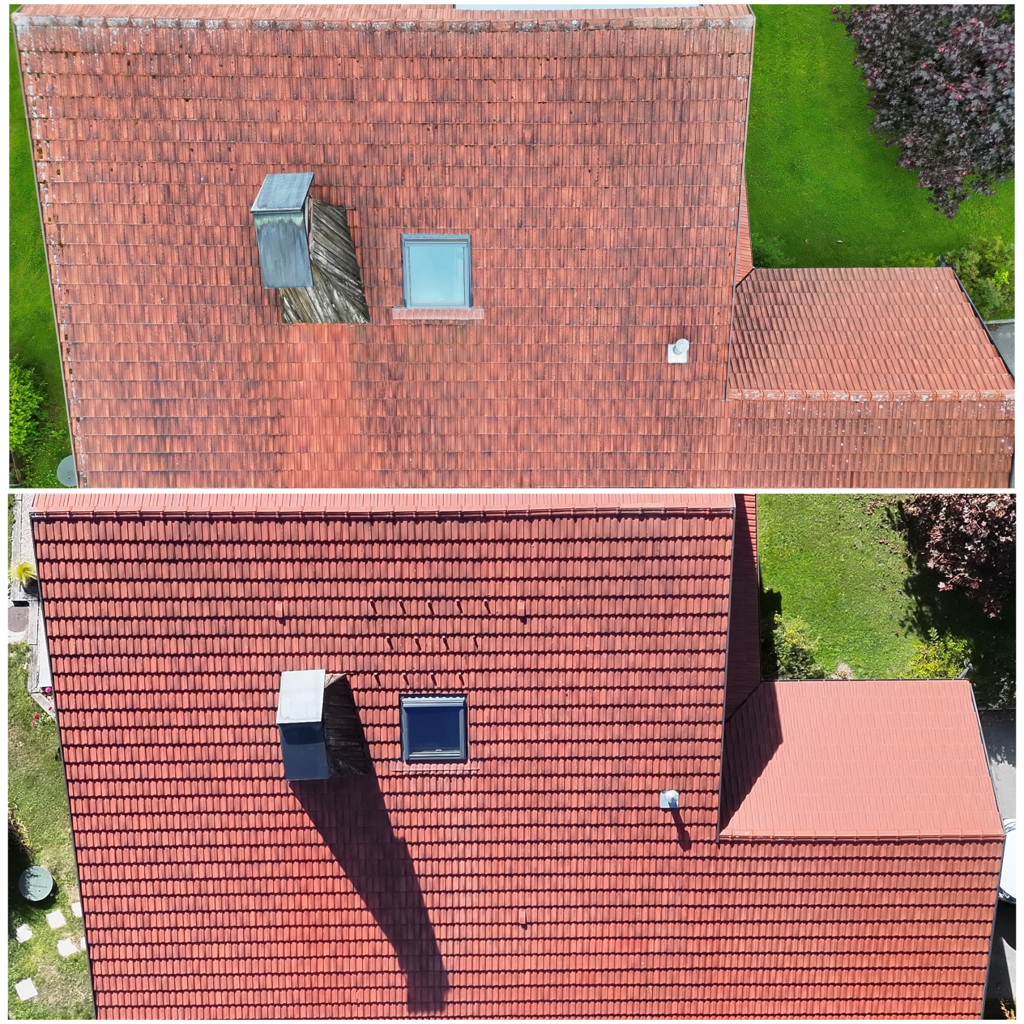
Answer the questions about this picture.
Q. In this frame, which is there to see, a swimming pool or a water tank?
water tank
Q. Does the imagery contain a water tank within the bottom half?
Yes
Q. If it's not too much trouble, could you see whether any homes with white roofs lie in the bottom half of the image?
No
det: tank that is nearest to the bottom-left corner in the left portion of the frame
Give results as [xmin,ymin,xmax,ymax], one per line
[19,866,61,904]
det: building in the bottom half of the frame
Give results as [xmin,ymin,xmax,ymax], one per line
[28,494,1015,1024]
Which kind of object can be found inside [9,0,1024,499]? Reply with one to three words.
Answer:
house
